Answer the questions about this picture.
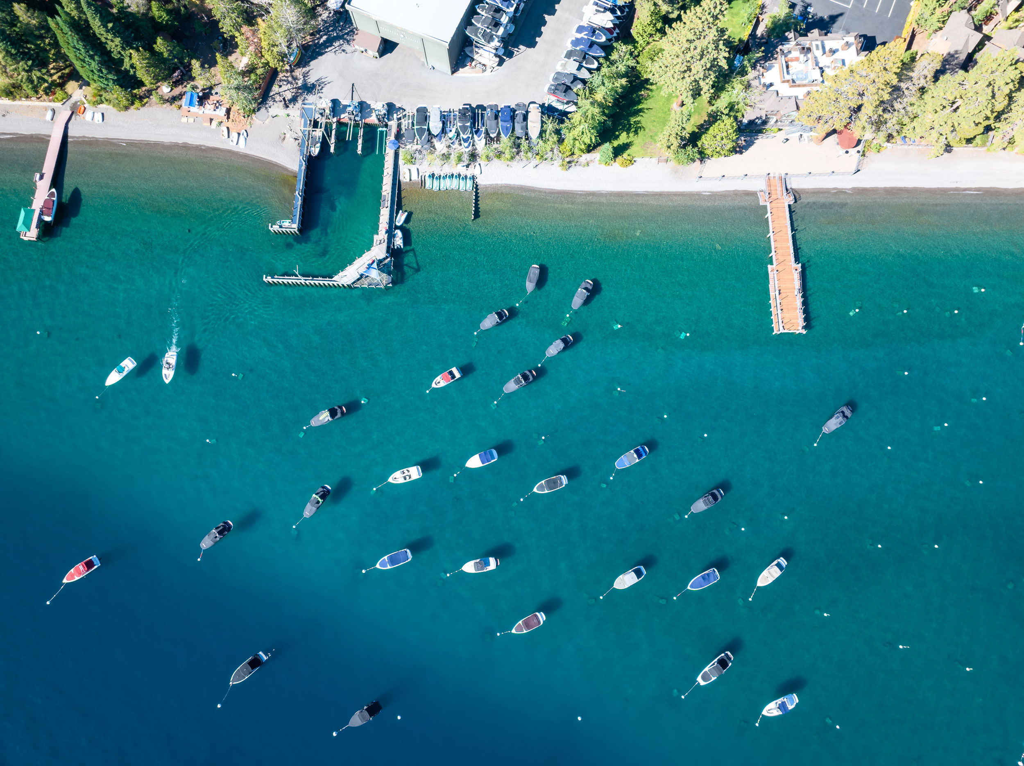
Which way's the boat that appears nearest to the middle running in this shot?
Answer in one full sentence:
The boat that appears nearest to the middle is laid out diagonally.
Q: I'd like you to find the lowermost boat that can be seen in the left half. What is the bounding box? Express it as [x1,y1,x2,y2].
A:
[349,699,383,726]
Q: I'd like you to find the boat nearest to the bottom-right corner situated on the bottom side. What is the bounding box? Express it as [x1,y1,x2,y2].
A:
[762,694,797,715]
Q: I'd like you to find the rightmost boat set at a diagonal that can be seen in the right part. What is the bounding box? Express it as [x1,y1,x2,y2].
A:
[823,406,851,434]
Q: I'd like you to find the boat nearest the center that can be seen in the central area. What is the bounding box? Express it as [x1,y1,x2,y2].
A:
[504,371,535,395]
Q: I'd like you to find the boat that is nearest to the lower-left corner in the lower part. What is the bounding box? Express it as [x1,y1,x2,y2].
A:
[63,556,102,583]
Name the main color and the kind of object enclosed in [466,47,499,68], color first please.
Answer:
white boat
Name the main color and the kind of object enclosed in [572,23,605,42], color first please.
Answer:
blue boat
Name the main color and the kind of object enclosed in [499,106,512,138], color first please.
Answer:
blue boat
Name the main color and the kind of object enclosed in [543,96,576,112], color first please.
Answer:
white boat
